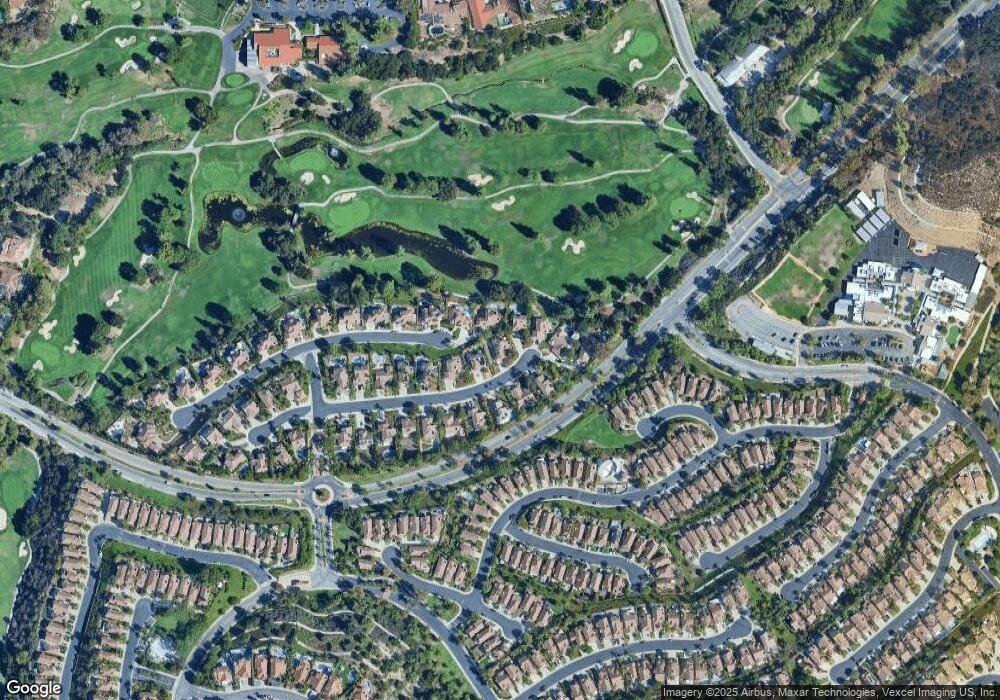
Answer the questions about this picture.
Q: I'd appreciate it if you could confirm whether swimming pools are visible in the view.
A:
Yes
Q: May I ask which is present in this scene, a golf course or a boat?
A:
golf course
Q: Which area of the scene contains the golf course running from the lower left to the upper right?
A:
top right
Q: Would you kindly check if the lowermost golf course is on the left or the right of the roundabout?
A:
to the left of it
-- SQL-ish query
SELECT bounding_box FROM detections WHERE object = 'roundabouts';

[302,474,344,515]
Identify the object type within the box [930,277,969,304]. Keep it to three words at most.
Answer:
building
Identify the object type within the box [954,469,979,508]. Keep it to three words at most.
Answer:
house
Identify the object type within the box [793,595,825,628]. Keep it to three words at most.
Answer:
house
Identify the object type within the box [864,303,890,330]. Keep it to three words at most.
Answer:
building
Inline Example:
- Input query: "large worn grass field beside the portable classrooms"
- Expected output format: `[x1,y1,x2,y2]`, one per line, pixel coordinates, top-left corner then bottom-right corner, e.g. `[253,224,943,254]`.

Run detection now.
[791,205,863,285]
